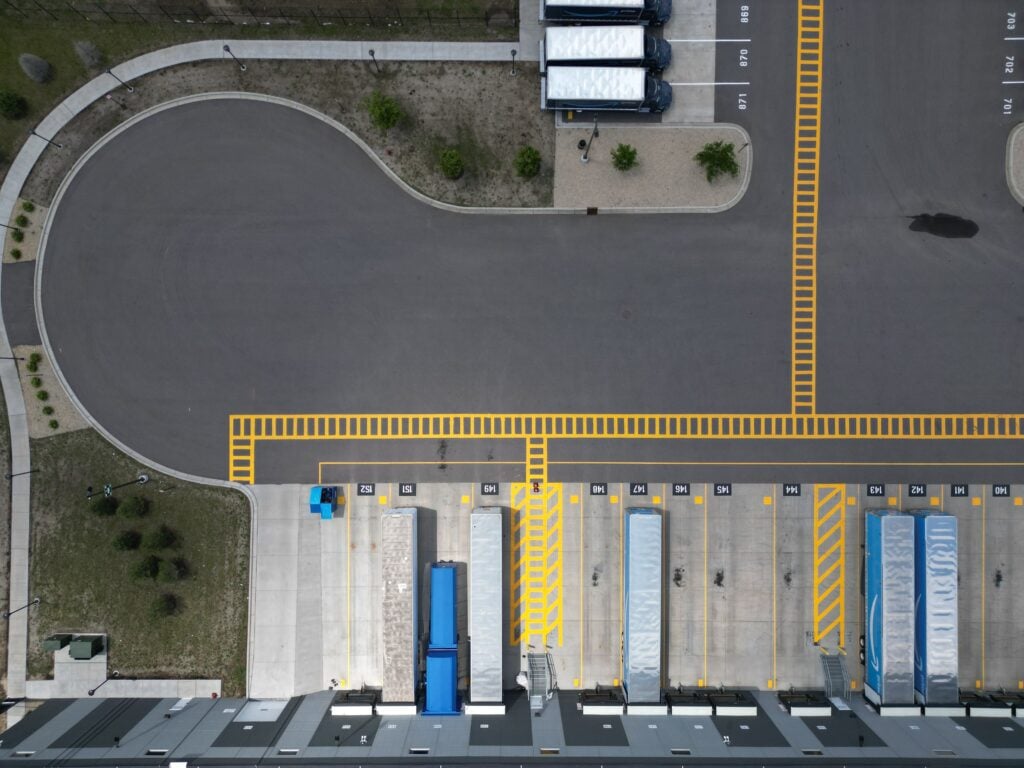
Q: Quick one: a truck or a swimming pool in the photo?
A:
truck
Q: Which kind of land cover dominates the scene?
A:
paved ground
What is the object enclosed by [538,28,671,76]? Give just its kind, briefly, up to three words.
truck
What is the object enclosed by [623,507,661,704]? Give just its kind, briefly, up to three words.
trailer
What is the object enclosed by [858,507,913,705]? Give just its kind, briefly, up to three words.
trailer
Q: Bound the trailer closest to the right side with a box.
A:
[905,507,957,705]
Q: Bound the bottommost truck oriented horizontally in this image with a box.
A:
[539,68,672,115]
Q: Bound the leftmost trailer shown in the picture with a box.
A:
[381,507,419,704]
